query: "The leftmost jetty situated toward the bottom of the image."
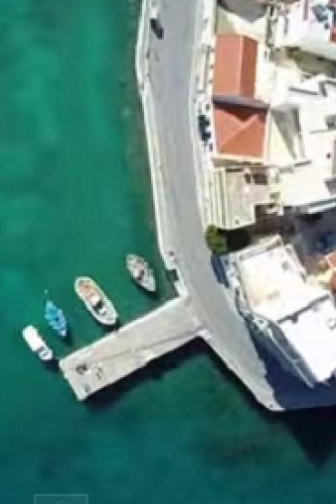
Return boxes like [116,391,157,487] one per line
[58,293,211,400]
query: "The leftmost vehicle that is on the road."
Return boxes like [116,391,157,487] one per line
[150,16,165,38]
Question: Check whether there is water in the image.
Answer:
Yes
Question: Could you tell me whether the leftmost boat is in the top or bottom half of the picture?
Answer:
bottom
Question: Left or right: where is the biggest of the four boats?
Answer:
left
